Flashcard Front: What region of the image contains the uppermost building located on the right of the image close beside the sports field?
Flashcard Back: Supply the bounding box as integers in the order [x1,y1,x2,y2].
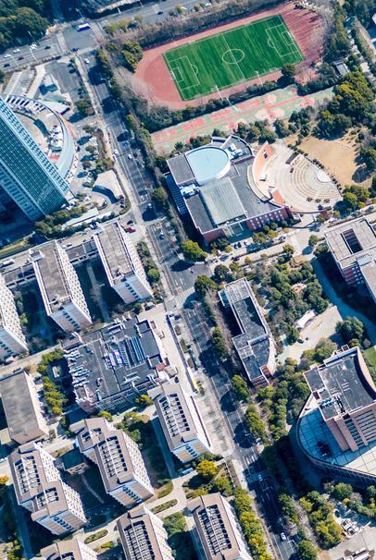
[167,135,295,245]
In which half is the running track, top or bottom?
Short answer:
top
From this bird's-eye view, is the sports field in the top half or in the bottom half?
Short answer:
top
